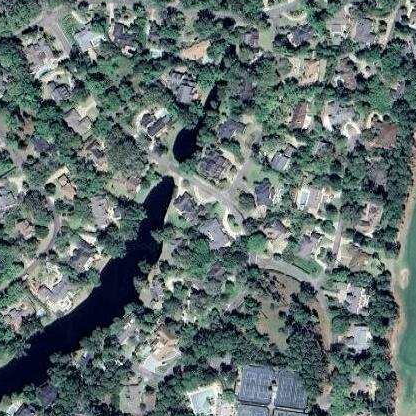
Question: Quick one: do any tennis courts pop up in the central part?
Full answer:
No, there is no tennis court in the central part.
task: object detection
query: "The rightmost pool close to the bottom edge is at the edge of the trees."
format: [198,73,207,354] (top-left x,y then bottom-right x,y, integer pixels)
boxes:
[187,384,222,416]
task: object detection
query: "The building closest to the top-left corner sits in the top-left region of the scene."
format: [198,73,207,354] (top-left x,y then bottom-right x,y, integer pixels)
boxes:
[26,35,57,69]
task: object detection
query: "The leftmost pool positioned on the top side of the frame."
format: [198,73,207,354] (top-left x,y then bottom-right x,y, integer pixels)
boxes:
[33,65,52,78]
